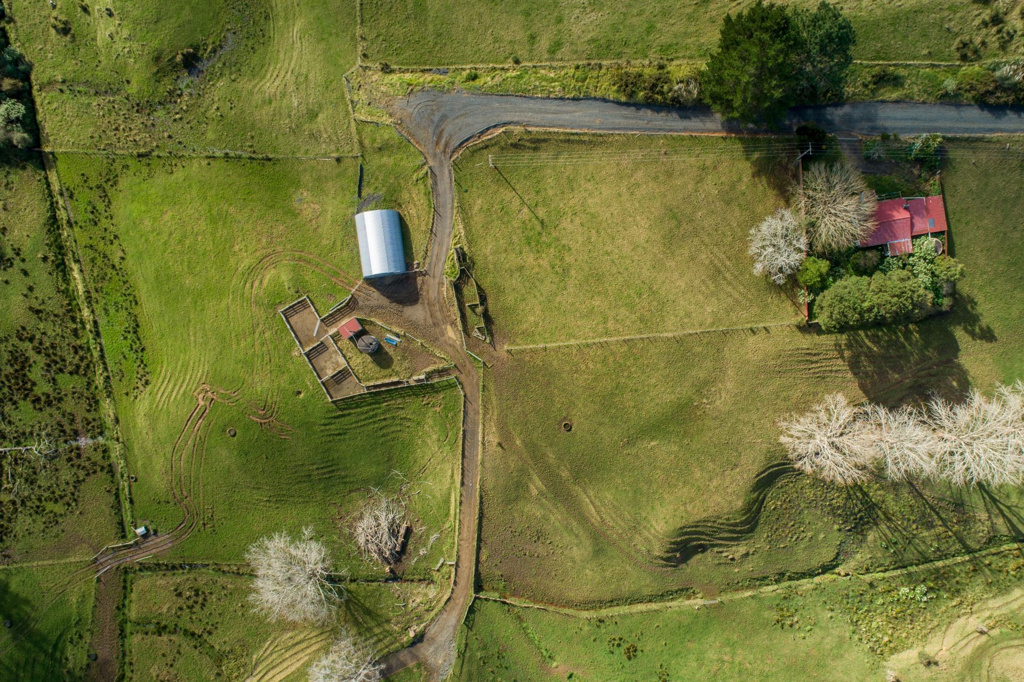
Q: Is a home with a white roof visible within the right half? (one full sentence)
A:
No, looking within the right half, there is no home with a white roof.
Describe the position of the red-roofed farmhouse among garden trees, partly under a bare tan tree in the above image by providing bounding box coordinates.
[849,191,948,256]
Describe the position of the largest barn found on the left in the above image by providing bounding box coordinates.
[356,209,406,278]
